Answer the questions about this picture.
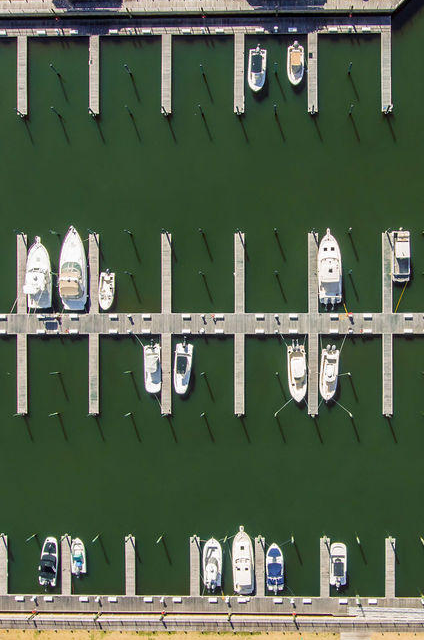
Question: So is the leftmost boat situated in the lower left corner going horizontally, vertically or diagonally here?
vertically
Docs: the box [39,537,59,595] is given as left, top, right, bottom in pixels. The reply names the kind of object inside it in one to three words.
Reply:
boat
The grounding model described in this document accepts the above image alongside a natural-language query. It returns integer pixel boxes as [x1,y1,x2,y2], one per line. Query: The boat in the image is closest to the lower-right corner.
[330,543,347,589]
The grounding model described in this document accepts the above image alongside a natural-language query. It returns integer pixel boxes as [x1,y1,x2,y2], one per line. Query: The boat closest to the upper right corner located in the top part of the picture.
[287,43,304,85]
